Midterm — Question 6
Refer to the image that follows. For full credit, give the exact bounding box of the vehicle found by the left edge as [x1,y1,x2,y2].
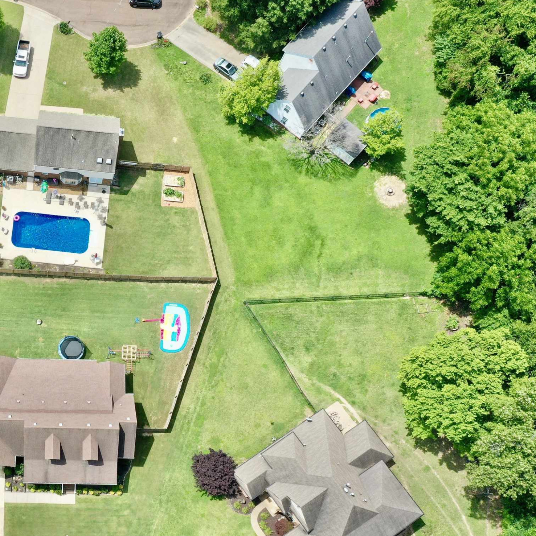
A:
[15,37,31,79]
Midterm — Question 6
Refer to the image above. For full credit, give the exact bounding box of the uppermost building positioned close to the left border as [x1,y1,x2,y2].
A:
[0,111,124,188]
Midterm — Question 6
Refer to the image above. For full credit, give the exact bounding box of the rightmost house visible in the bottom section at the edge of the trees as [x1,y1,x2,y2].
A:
[234,409,424,536]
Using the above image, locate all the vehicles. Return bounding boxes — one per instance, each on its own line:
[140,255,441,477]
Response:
[129,0,162,11]
[241,53,268,71]
[213,58,237,77]
[15,37,31,79]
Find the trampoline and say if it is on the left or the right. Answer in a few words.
left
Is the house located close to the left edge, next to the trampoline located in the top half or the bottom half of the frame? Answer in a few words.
bottom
